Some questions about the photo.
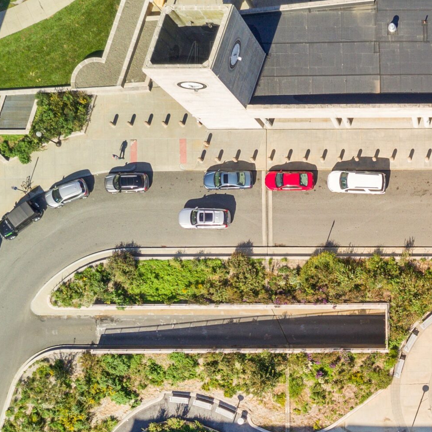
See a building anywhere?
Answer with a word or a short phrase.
Yes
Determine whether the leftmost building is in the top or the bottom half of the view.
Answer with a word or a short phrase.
top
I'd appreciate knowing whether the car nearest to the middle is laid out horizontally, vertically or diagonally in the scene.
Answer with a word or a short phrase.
horizontally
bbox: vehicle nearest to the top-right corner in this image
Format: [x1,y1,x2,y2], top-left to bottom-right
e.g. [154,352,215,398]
[328,169,386,195]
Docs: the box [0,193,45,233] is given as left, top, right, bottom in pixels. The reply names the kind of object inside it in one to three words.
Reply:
car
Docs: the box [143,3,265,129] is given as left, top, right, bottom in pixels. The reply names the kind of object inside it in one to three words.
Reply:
building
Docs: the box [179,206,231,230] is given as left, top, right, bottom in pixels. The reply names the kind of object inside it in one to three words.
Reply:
car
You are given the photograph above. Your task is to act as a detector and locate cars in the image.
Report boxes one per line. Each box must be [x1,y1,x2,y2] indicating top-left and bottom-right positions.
[179,206,231,230]
[44,177,91,209]
[0,193,45,233]
[328,169,386,195]
[265,169,314,191]
[203,168,253,191]
[104,170,149,193]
